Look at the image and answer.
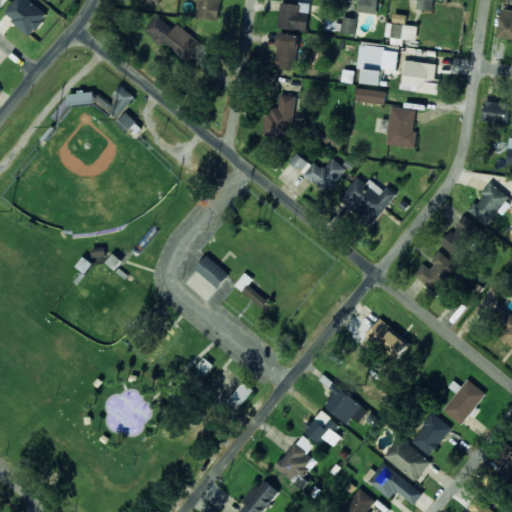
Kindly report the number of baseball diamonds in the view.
2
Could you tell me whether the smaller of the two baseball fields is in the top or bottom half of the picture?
top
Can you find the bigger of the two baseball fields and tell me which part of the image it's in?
left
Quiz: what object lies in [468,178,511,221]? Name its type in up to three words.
house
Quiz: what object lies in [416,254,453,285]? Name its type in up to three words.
house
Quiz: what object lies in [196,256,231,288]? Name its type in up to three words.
building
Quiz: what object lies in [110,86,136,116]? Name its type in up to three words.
building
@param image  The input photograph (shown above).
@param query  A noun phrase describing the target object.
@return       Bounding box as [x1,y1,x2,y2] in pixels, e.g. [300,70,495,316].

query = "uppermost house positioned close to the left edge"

[4,0,48,34]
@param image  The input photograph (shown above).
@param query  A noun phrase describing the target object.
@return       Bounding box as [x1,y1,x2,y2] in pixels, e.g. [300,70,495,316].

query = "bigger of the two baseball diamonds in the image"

[52,266,132,342]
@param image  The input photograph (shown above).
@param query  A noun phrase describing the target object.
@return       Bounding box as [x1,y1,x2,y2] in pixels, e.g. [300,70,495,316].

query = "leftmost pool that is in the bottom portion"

[378,432,394,452]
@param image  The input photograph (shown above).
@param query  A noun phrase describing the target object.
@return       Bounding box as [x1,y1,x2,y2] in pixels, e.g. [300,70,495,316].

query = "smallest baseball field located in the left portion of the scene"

[60,114,116,176]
